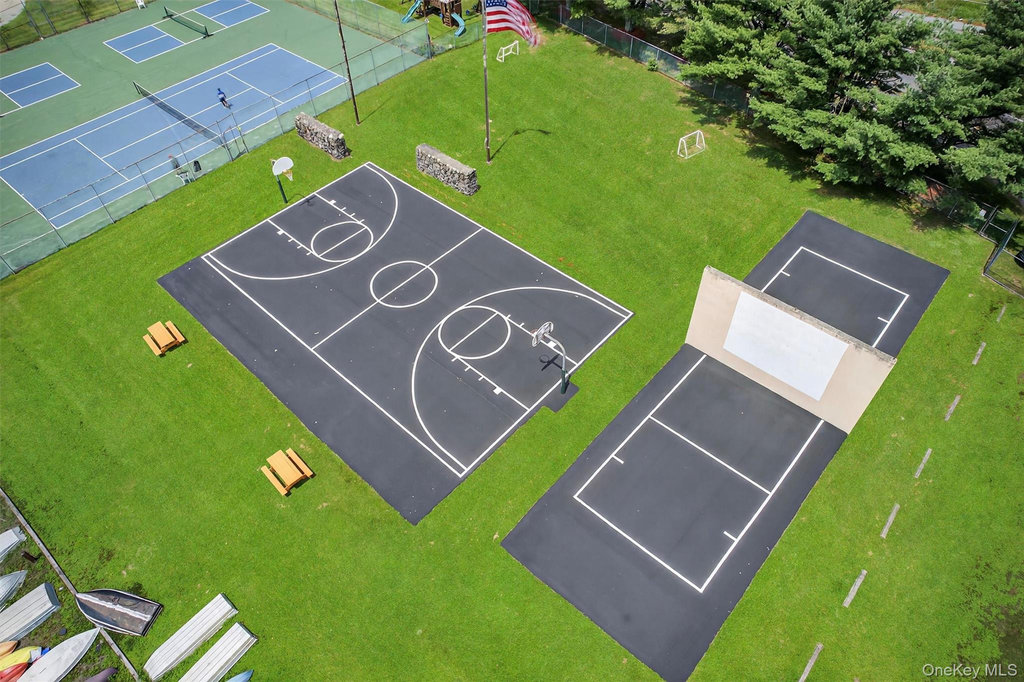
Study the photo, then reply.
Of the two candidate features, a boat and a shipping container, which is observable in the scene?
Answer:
boat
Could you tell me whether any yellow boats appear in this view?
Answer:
Yes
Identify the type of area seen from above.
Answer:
sports ground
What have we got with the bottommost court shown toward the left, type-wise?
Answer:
basketball court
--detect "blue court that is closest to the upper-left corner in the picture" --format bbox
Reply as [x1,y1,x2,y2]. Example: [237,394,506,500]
[0,62,79,117]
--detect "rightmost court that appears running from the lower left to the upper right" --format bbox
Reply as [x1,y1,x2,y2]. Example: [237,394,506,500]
[502,211,950,682]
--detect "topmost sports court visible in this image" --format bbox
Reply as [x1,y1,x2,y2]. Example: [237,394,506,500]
[104,0,269,62]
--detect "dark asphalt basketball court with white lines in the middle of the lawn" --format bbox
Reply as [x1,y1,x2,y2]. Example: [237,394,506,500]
[157,160,635,524]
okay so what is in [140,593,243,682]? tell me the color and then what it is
white boat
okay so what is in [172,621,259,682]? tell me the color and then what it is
white boat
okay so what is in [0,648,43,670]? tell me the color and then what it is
yellow boat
